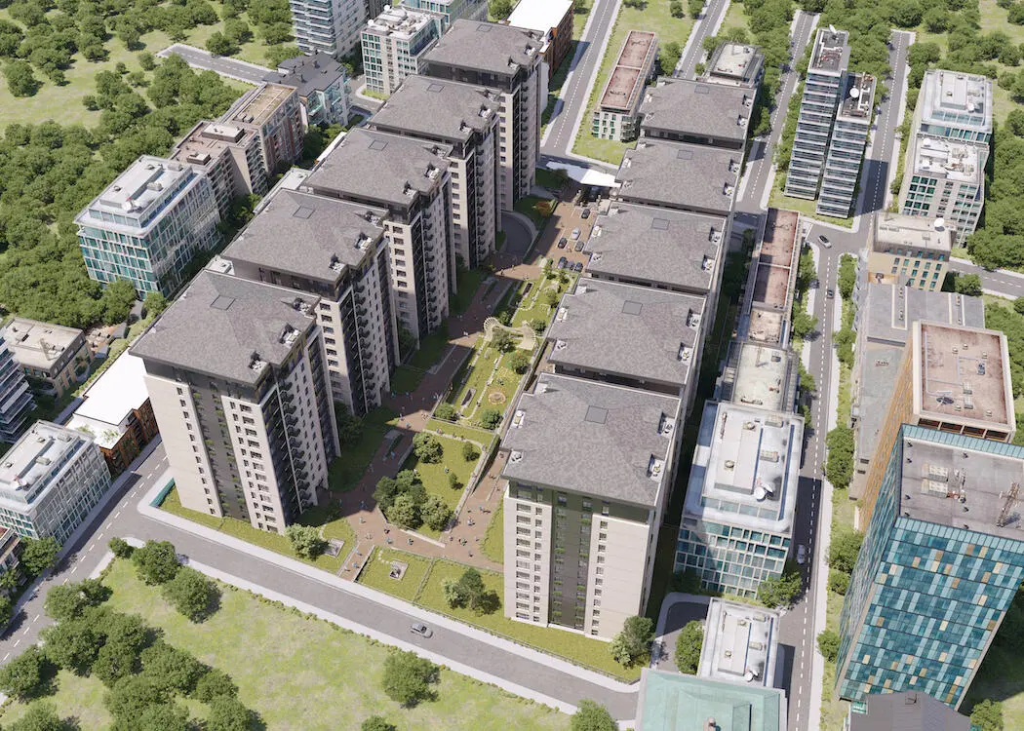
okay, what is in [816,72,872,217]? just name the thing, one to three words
building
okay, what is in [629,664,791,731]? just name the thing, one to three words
house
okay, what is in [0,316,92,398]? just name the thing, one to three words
building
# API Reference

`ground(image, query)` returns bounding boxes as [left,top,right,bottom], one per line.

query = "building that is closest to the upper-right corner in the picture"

[902,71,994,156]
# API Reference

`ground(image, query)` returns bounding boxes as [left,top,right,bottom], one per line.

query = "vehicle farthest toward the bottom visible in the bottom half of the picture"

[408,619,431,637]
